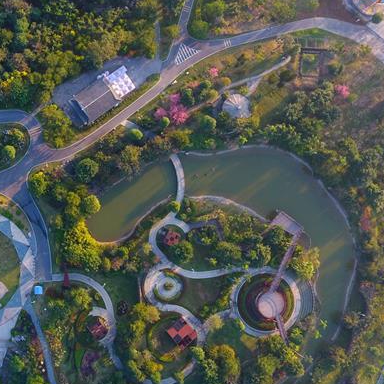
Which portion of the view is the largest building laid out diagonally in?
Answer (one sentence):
The largest building laid out diagonally appears toward the top left of the photo.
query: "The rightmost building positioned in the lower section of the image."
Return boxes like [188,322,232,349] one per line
[165,316,197,348]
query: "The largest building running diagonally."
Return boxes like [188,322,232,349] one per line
[68,66,137,128]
